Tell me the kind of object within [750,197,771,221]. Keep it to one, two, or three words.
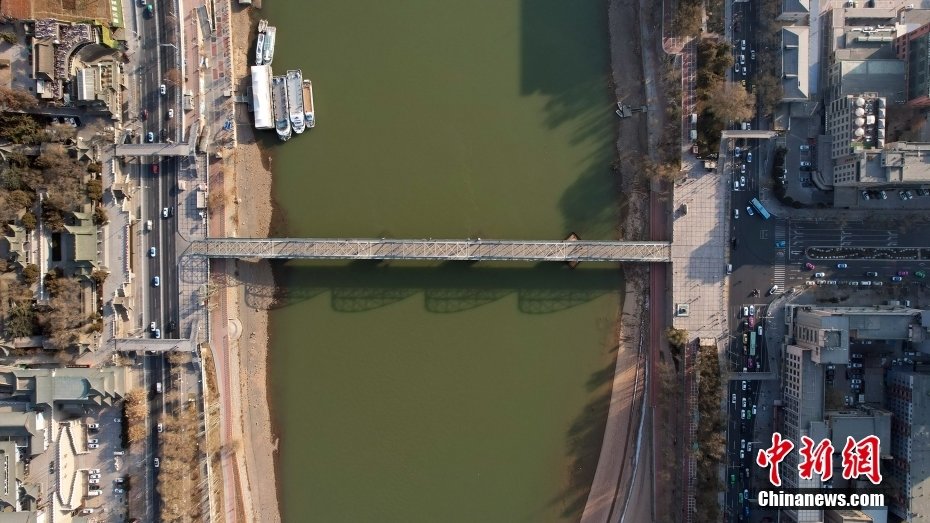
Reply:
bus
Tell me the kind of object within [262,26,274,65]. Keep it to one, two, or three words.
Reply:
boat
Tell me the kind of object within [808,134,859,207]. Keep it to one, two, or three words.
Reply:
building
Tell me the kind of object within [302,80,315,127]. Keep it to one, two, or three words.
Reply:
boat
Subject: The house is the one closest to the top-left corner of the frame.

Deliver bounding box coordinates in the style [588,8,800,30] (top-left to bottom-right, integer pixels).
[34,38,57,80]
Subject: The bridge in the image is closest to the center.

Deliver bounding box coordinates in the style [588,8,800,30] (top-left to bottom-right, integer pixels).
[192,233,672,268]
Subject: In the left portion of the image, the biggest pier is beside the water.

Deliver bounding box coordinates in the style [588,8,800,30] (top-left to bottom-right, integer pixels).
[252,65,277,130]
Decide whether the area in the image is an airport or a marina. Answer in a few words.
marina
